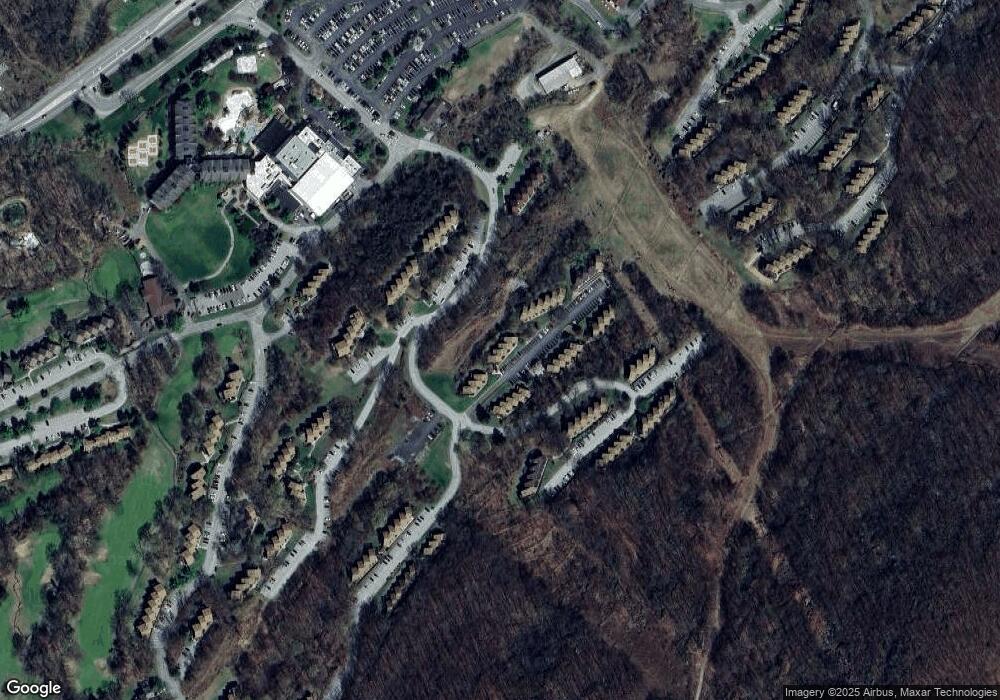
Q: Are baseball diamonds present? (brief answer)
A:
No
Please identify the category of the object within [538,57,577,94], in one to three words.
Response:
shed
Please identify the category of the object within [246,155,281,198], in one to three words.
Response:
building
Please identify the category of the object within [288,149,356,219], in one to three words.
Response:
building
